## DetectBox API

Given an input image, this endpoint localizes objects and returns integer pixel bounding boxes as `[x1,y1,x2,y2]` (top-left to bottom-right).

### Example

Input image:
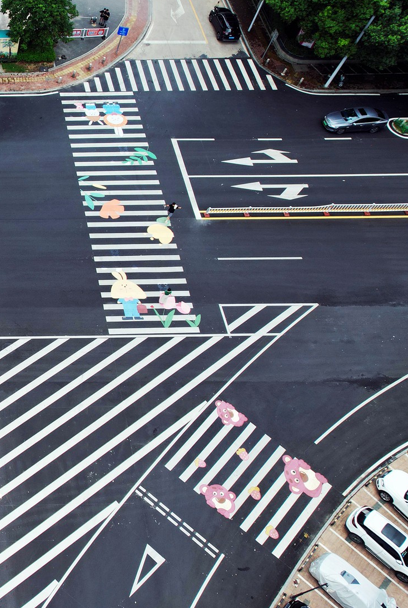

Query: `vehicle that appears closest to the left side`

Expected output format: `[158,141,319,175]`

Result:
[209,7,246,45]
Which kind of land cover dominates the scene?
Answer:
paved ground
